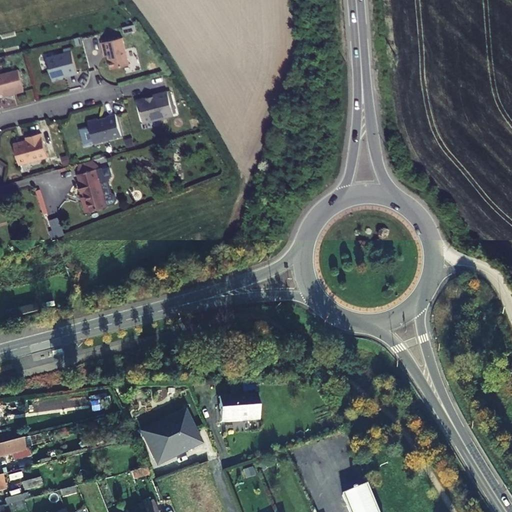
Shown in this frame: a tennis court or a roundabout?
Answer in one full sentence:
The one in the frame is a roundabout.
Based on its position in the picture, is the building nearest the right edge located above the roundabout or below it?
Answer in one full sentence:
In the image, the building nearest the right edge appears below the roundabout.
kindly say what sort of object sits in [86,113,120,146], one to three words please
house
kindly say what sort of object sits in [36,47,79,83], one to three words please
house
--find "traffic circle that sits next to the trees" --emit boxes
[292,182,445,335]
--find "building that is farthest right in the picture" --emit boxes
[344,482,382,512]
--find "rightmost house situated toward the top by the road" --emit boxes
[135,91,172,124]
